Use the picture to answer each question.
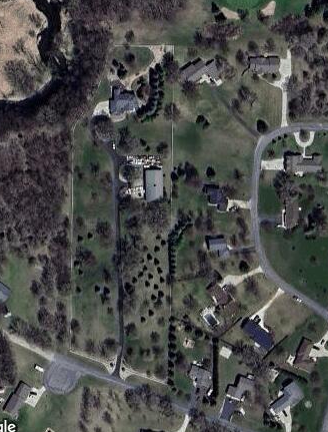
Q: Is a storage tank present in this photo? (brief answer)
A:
No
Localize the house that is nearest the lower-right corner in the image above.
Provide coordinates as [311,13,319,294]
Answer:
[270,381,306,413]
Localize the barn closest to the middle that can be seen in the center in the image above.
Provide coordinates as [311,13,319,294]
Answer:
[145,169,163,201]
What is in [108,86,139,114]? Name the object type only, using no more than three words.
house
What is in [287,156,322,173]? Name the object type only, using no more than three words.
house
